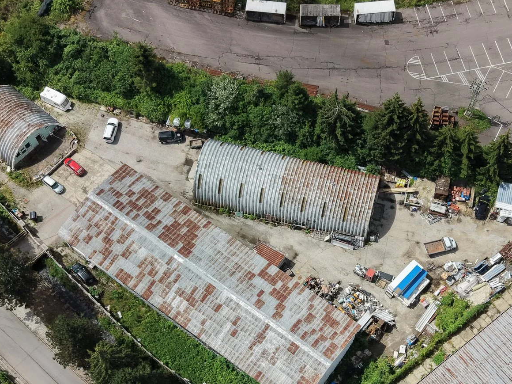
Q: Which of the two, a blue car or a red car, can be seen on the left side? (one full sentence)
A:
Visible on the left side is a red car.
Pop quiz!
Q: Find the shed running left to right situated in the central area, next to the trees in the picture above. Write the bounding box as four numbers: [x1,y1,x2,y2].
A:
[193,136,382,246]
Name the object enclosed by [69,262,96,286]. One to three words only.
car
